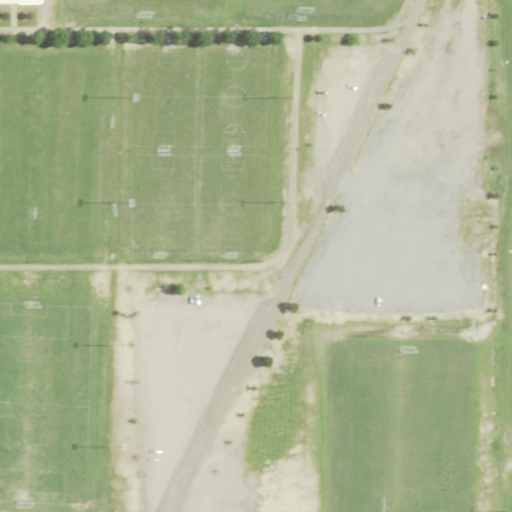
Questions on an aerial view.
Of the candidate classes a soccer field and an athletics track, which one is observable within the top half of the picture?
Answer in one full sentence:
The one visible within the top half of the picture is a soccer field.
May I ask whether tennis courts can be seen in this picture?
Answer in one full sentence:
No, I can see no tennis court in this picture.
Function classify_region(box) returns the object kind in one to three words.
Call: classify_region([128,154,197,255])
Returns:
soccer field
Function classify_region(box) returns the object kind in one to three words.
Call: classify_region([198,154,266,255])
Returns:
soccer field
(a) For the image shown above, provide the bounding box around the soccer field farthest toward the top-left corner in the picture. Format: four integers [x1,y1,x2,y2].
[132,47,202,148]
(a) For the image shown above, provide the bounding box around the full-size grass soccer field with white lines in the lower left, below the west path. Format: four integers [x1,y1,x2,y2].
[0,302,92,508]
